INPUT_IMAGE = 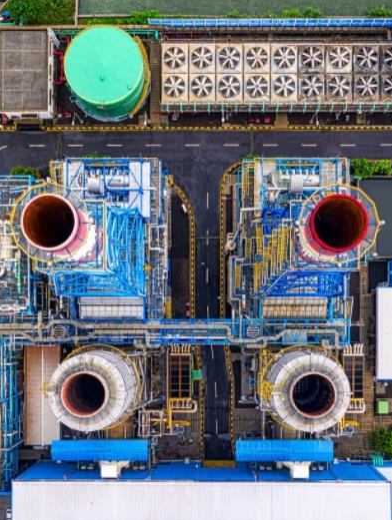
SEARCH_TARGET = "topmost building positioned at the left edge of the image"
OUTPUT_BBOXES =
[0,28,57,122]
